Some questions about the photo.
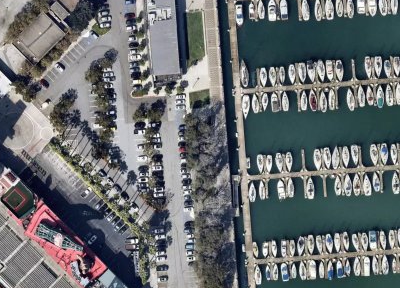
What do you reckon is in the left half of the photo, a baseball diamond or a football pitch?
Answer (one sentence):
There is a baseball diamond in the left half of the photo.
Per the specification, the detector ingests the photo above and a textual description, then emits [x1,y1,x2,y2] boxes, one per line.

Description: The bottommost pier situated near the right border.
[253,226,400,285]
